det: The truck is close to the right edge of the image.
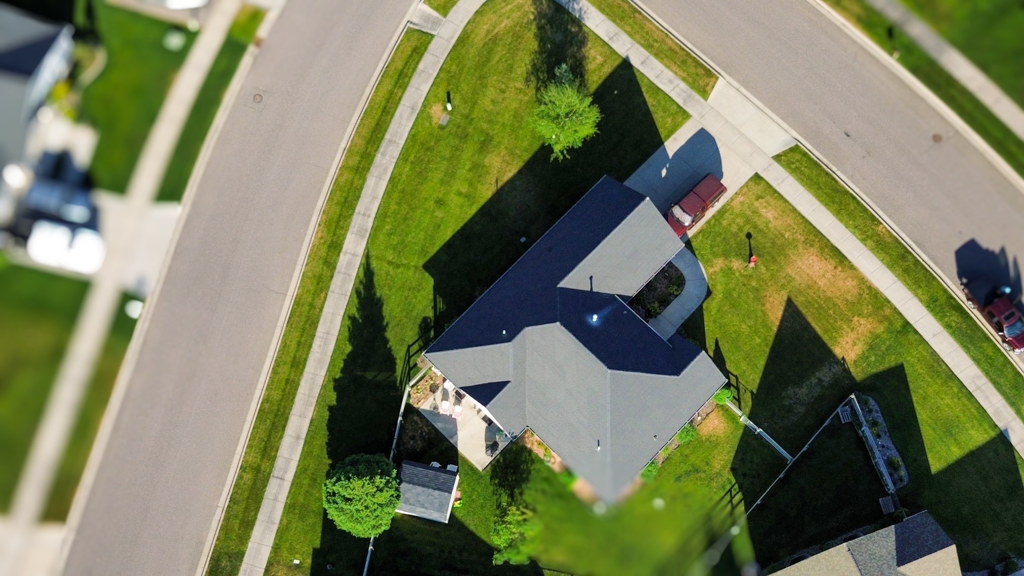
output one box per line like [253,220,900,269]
[960,278,1024,359]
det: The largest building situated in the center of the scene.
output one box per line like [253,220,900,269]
[422,175,728,509]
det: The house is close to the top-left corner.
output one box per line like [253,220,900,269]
[0,0,74,161]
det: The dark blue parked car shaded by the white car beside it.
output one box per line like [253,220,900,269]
[24,181,103,224]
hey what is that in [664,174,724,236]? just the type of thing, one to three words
truck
